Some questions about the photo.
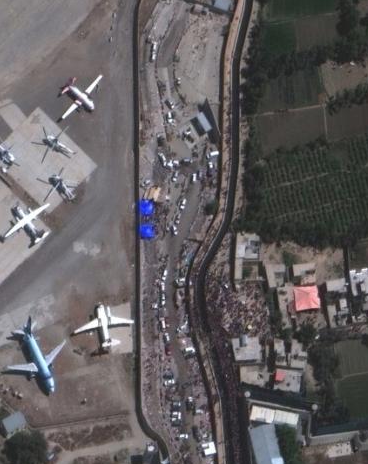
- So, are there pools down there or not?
No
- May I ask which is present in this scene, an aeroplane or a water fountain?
aeroplane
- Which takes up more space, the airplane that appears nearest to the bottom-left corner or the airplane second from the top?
the airplane that appears nearest to the bottom-left corner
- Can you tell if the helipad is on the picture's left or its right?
left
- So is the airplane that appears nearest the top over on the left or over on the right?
left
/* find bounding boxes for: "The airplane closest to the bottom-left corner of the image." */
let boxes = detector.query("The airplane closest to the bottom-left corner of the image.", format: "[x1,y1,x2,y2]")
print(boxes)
[4,322,70,393]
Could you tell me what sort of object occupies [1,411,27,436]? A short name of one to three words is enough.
building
